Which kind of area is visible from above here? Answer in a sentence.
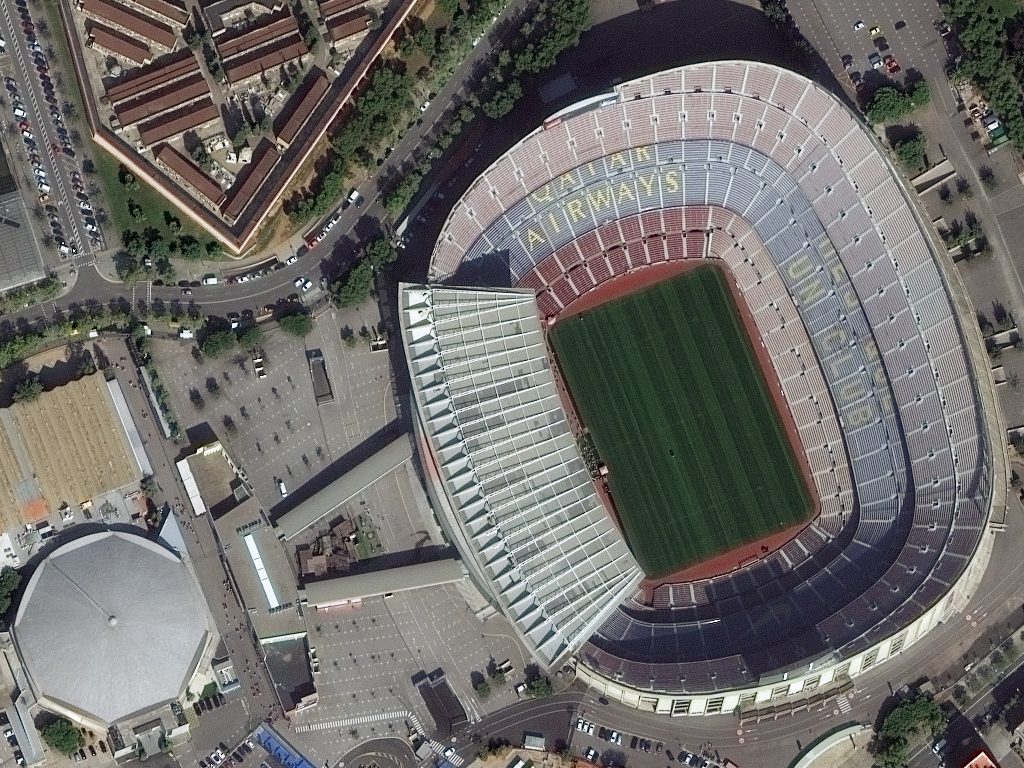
What you see here is a sports ground.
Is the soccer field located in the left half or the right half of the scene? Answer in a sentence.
It is on the right.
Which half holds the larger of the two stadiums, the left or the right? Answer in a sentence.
The larger of the two stadiums is on the right side of the image.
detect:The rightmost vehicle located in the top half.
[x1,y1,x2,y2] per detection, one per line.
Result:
[983,113,999,132]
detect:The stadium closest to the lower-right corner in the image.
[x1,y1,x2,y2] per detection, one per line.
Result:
[399,59,1004,715]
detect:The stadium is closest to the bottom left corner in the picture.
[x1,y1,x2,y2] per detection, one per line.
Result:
[8,531,213,732]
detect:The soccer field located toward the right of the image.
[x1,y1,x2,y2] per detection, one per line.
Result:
[540,257,821,593]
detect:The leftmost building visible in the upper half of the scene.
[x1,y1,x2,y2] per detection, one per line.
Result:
[0,191,46,296]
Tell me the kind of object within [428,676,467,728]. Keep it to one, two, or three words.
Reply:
building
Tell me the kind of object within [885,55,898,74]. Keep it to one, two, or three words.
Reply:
vehicle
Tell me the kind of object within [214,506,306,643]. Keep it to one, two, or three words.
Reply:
building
